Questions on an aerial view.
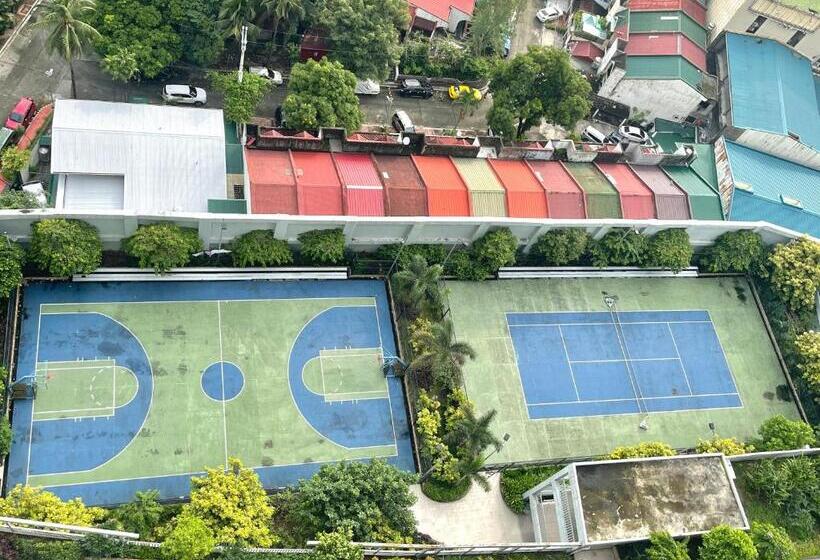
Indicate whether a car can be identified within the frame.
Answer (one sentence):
Yes, there's a car here.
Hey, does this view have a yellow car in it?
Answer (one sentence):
Yes, looking at the shot, I can spot a yellow car.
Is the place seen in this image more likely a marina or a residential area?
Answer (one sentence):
It's a residential area.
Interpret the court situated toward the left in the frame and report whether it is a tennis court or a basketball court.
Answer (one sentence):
From above, the court situated toward the left can be identified as a basketball court.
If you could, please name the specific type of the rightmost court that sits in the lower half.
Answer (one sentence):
Looking closely, the rightmost court that sits in the lower half is a tennis court.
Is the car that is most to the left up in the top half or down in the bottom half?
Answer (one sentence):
The car that is most to the left sits in the top half of the picture.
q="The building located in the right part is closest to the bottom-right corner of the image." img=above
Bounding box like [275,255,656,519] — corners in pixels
[513,451,753,554]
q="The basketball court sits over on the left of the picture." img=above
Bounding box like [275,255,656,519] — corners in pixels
[4,279,415,510]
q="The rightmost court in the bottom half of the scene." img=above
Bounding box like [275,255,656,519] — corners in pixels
[446,276,802,467]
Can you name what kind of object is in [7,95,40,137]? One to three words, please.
car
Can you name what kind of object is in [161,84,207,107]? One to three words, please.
car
